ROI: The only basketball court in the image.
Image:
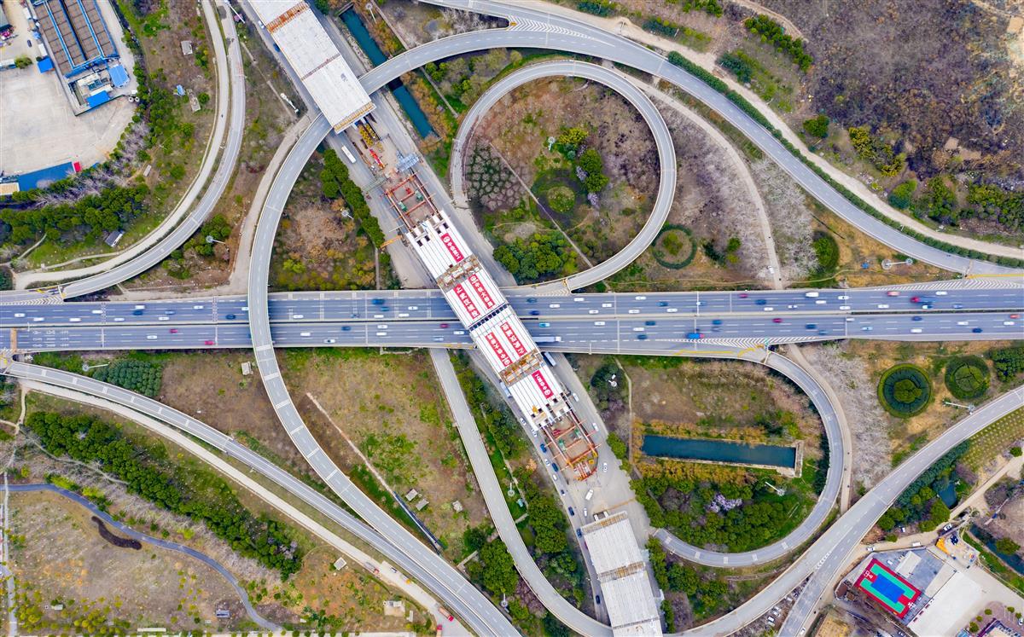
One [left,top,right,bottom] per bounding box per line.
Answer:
[854,558,921,620]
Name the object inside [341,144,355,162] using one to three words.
vehicle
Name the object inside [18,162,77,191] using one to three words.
shed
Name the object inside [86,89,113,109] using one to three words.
building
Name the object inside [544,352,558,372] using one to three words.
vehicle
